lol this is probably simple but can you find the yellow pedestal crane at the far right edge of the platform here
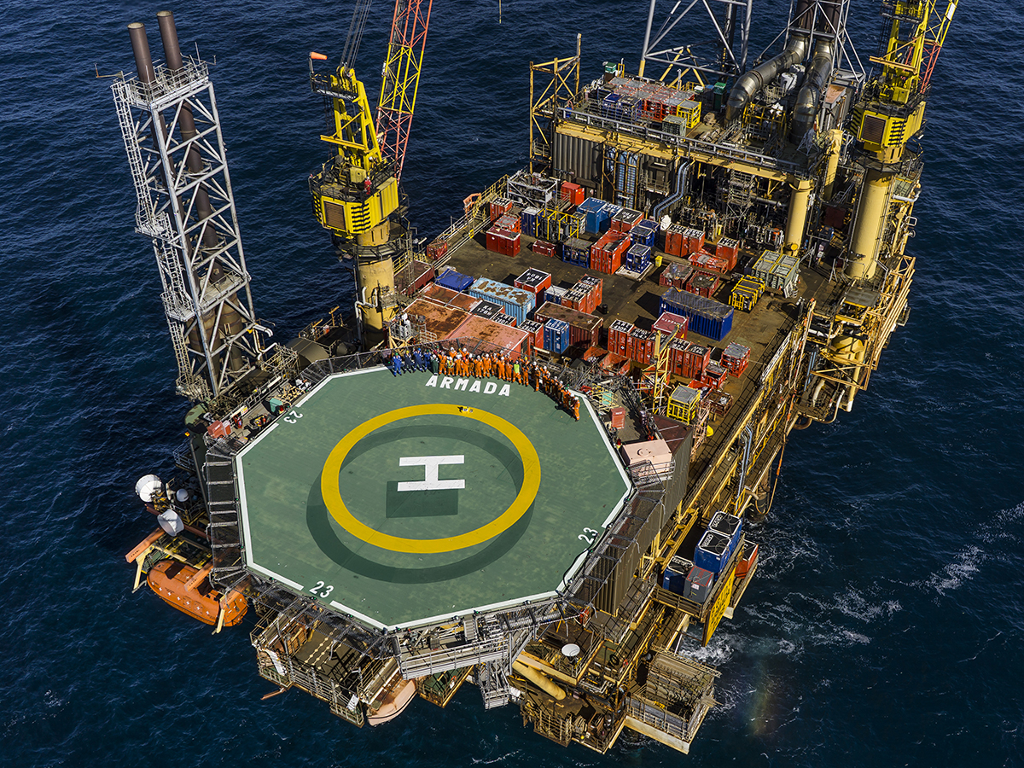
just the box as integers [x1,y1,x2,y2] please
[843,0,948,272]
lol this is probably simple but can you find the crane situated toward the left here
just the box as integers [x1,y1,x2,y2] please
[304,0,434,337]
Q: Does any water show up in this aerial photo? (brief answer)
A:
Yes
